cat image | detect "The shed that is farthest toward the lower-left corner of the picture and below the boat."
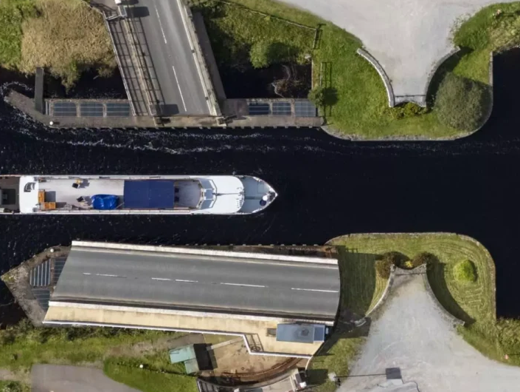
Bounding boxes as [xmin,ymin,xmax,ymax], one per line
[170,342,202,372]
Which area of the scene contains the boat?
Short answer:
left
